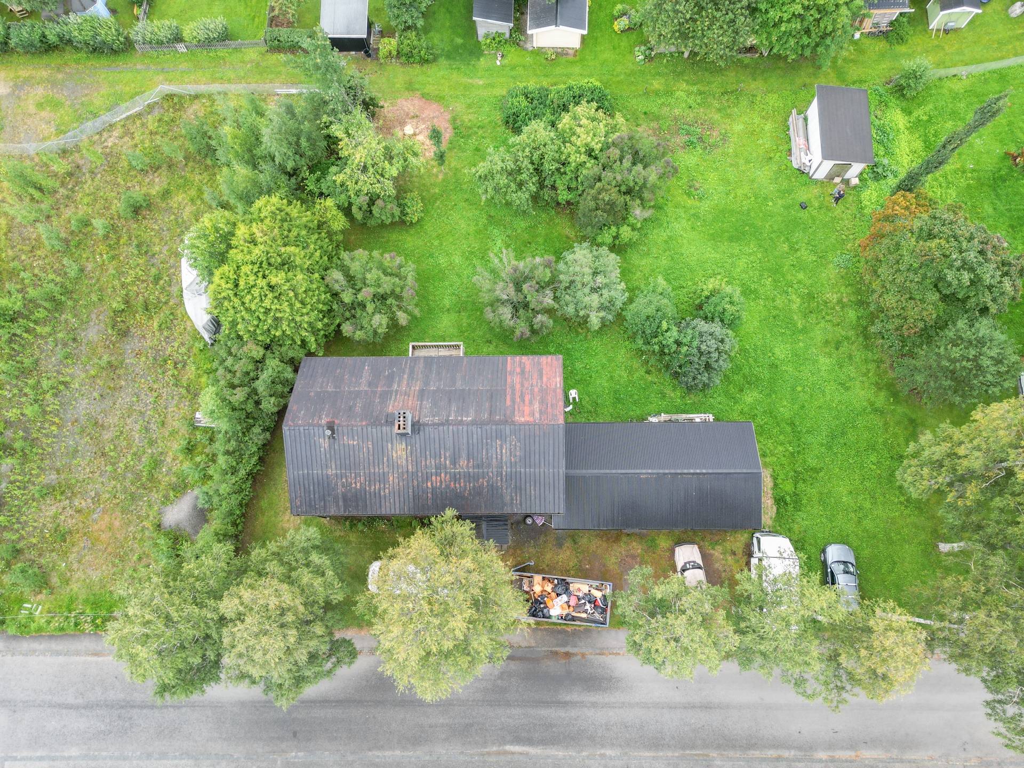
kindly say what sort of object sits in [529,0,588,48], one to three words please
shed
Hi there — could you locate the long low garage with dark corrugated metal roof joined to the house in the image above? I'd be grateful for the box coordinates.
[553,420,763,531]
